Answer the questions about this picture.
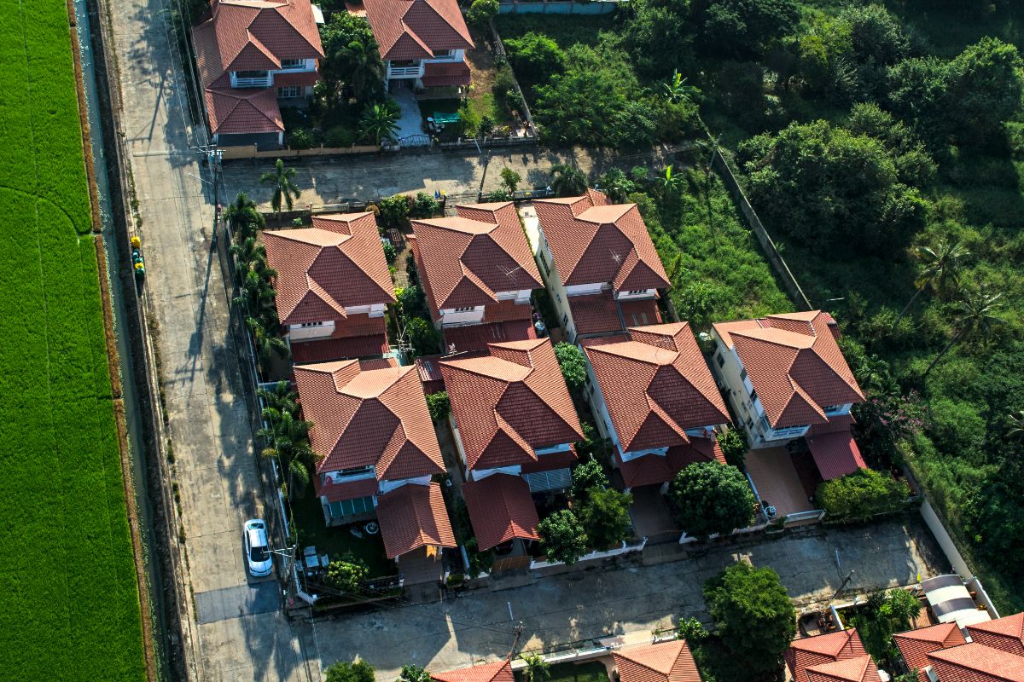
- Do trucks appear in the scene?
No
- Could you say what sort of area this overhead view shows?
residential area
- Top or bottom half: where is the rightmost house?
bottom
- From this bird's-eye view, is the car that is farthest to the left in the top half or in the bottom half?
bottom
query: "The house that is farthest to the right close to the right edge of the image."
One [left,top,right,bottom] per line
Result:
[878,614,1024,682]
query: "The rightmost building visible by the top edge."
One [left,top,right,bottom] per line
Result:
[340,0,476,112]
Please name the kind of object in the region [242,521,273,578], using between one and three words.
car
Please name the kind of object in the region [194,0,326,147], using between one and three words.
house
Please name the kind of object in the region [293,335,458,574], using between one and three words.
house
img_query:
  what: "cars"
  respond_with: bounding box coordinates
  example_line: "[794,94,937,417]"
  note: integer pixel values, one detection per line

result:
[489,541,514,560]
[242,521,273,578]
